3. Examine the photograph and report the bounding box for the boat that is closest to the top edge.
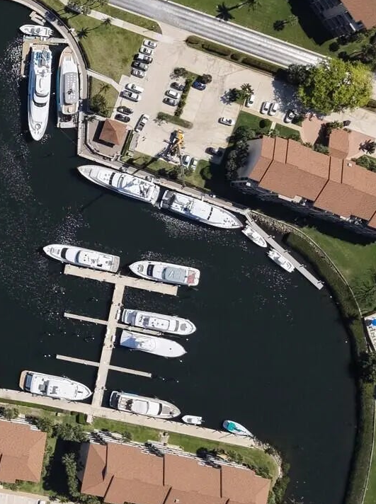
[20,25,55,38]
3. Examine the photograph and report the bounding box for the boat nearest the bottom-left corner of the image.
[17,369,94,401]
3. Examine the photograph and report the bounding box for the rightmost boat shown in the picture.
[262,248,292,271]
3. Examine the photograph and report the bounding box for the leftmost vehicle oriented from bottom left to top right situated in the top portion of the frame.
[134,114,149,132]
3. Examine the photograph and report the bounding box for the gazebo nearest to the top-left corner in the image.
[97,118,128,146]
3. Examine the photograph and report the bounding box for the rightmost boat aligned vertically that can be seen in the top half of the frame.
[55,46,80,129]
